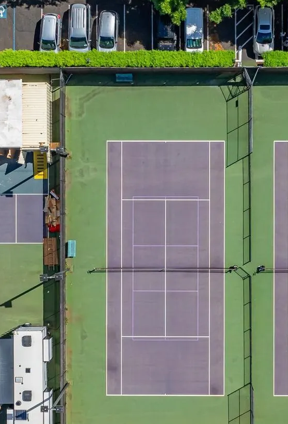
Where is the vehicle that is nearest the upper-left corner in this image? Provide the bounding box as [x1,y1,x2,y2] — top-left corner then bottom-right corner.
[38,12,62,54]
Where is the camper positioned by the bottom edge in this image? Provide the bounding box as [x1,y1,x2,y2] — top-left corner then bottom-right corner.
[0,322,55,424]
